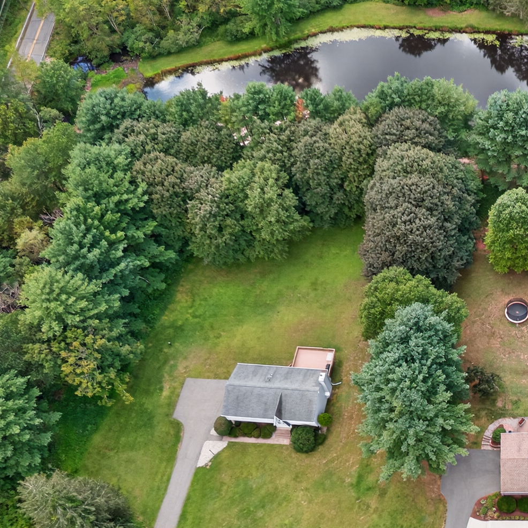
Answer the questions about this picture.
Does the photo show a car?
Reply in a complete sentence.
No, I can see no car in this picture.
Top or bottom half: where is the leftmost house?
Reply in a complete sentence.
You can find the leftmost house in the bottom half.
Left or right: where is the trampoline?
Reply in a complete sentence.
You can find the trampoline on the right side of the picture.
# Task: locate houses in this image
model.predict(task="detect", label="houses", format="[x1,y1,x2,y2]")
[222,364,334,431]
[500,434,528,498]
